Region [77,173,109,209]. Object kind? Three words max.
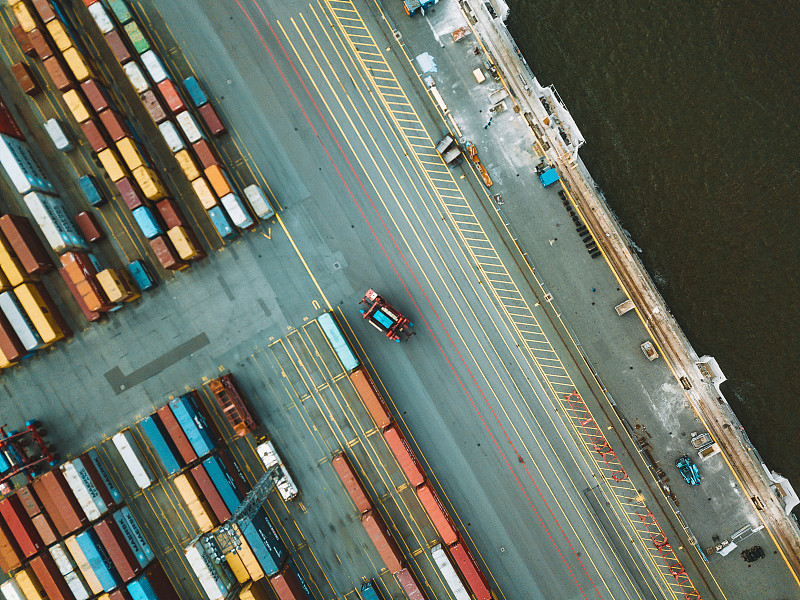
shipping container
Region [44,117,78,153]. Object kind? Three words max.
shipping container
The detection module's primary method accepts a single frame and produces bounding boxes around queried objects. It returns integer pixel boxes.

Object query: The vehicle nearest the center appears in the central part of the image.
[354,291,415,345]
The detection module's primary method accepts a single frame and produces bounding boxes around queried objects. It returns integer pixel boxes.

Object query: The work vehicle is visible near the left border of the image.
[0,421,59,492]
